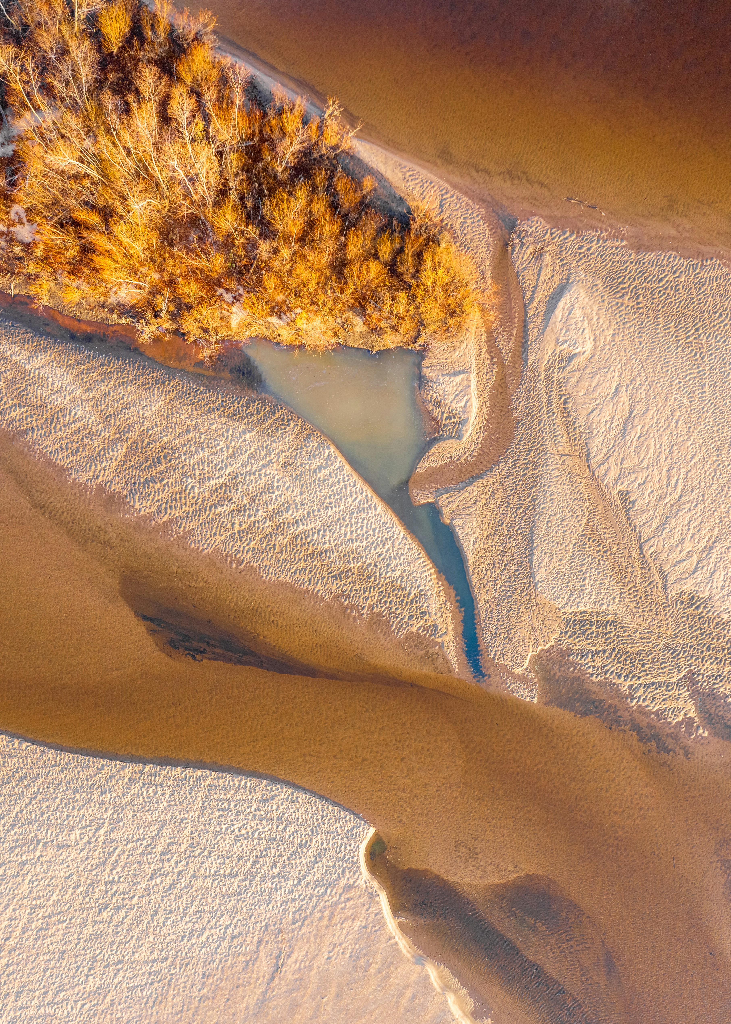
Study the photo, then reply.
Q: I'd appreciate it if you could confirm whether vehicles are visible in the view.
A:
No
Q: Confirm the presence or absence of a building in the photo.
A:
No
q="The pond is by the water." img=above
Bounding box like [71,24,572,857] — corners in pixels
[254,342,486,678]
